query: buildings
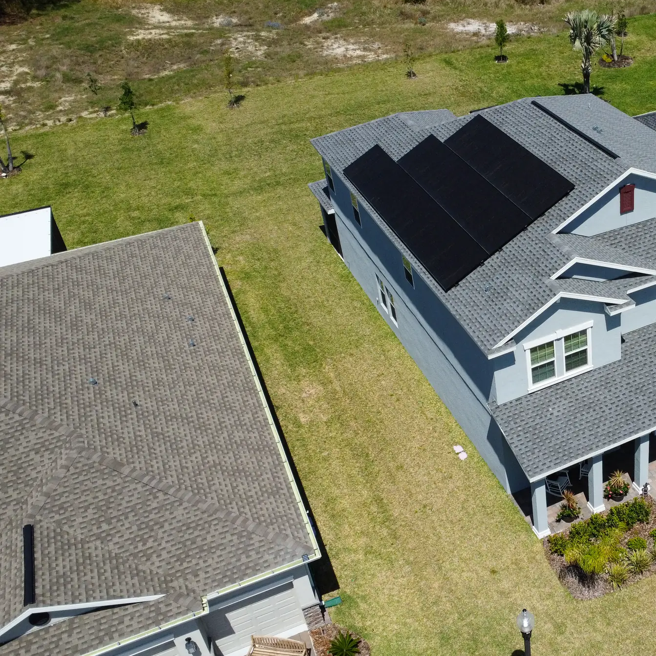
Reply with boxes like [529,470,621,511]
[308,93,656,538]
[0,208,324,656]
